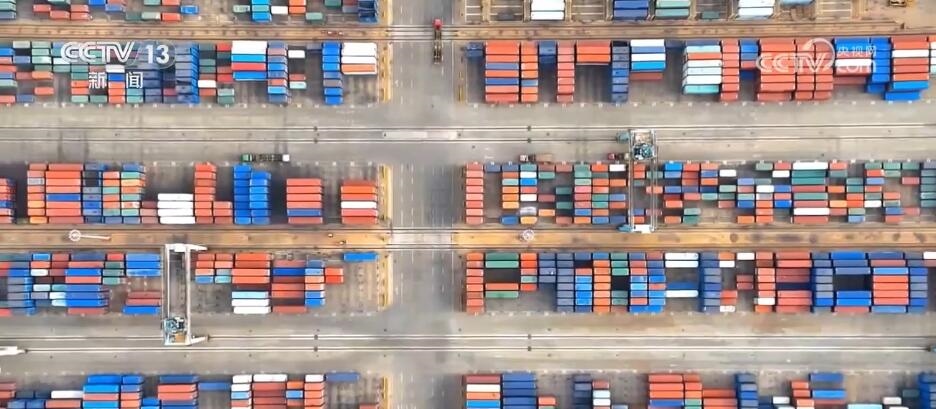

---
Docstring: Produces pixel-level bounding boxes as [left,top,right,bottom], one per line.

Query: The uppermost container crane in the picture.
[611,129,661,237]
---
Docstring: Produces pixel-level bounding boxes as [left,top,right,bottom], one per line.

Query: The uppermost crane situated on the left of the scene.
[159,242,210,347]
